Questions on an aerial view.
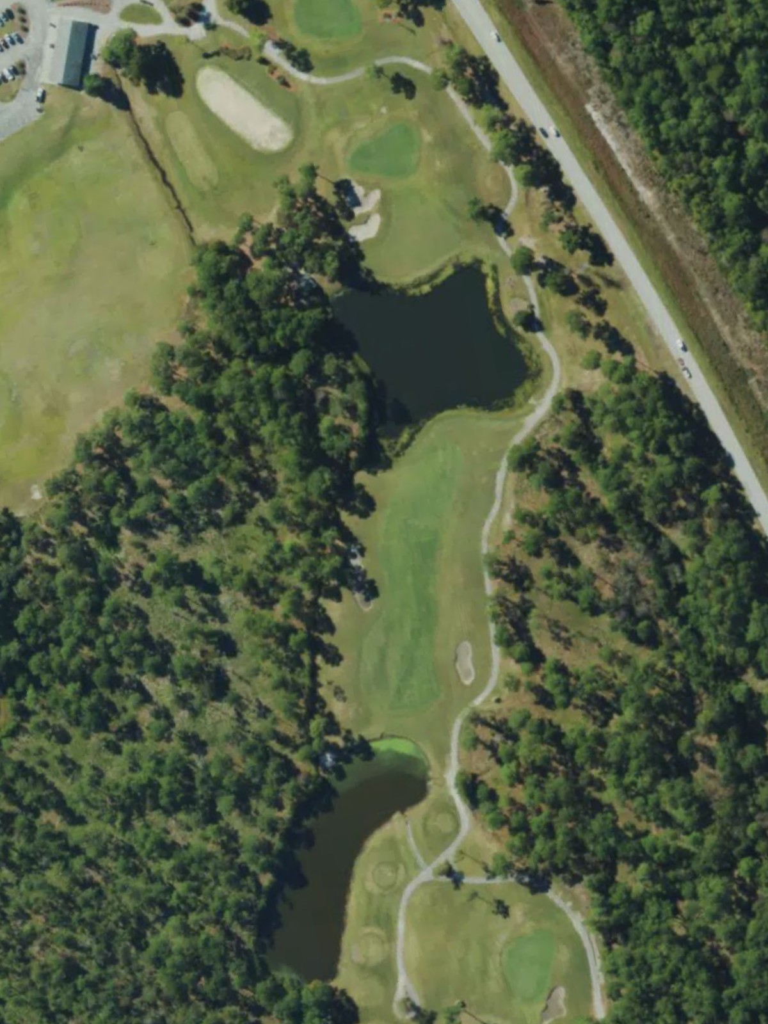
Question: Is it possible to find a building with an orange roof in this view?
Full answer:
No, I can't see a single building with an orange roof in this photo.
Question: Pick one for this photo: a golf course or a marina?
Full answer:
This looks like a golf course.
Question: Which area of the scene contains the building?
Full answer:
The building is in the top left part of the image.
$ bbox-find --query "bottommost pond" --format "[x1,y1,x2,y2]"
[266,762,428,980]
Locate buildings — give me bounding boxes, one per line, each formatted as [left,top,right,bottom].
[59,21,89,87]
